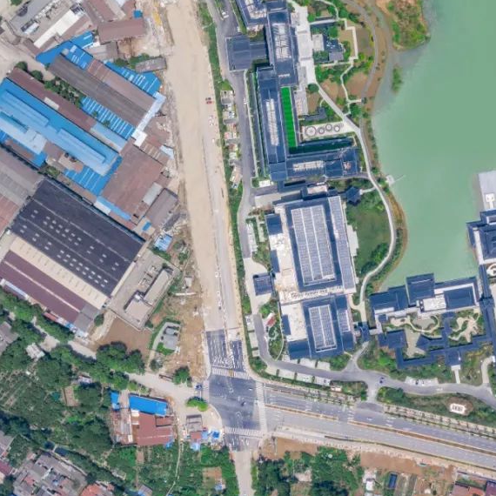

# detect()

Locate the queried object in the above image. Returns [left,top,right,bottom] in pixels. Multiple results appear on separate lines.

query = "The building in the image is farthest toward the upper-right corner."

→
[312,32,343,61]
